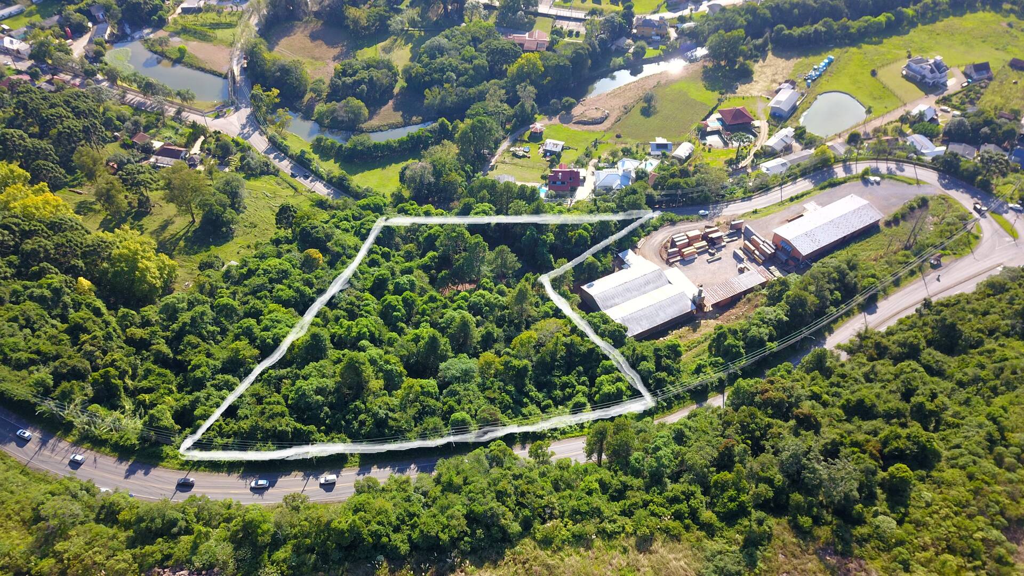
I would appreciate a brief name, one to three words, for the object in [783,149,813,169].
building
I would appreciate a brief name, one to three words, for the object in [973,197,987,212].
vehicle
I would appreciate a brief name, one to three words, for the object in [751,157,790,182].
house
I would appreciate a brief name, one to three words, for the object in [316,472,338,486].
vehicle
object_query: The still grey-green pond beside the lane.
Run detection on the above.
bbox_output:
[103,42,232,104]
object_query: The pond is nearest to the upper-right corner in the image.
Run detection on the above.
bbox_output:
[798,91,868,137]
